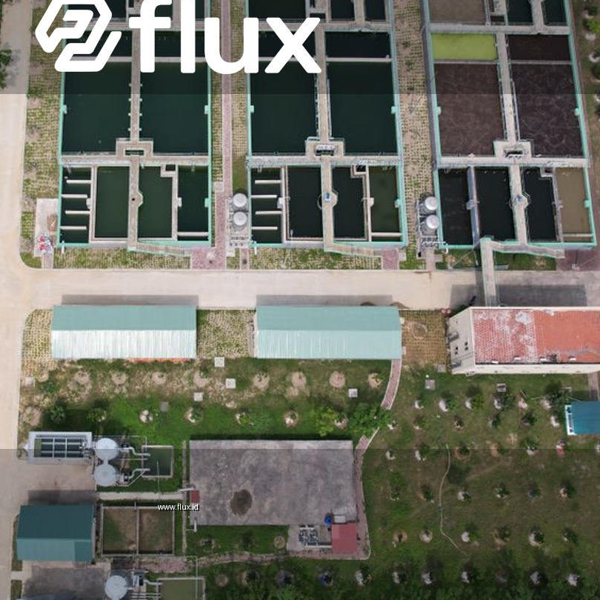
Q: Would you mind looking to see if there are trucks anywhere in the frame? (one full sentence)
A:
No, there isn't any truck down there.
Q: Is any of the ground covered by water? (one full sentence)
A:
Yes, there's water in this view.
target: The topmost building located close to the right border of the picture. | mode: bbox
[449,308,600,373]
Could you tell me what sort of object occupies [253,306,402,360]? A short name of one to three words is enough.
shed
